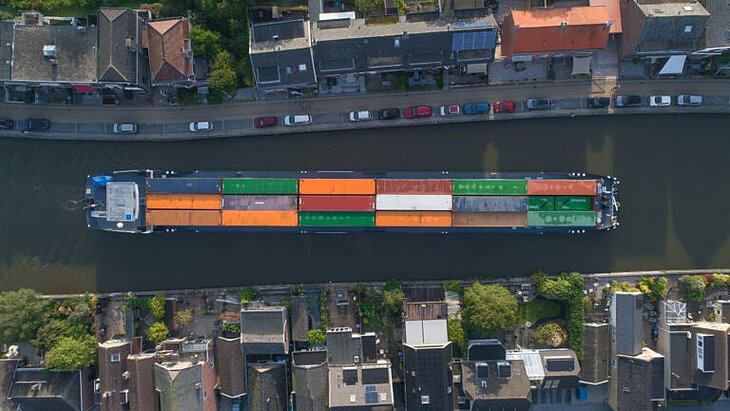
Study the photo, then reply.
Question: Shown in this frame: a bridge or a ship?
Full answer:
Looking from above, you can make out a ship.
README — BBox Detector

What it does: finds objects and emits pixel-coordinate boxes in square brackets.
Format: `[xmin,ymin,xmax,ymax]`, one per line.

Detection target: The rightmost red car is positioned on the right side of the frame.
[493,100,516,113]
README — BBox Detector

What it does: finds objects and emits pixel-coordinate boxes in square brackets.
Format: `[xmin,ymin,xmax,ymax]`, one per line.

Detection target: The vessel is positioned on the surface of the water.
[73,169,620,234]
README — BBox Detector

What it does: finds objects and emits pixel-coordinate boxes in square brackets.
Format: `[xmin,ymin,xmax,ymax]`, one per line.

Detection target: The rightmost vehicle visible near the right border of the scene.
[674,93,703,106]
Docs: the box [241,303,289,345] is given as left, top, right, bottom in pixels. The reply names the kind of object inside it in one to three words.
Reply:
house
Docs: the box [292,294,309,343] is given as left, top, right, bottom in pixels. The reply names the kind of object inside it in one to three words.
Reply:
shed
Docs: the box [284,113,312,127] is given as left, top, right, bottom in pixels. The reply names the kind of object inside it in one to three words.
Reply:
vehicle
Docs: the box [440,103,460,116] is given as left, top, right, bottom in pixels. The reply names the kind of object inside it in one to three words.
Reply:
vehicle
